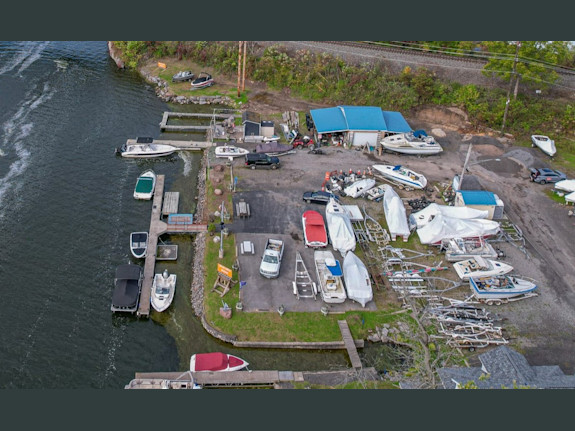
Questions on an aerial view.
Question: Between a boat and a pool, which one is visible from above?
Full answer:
Looking from above, you can make out a boat.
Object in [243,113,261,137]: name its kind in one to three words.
shed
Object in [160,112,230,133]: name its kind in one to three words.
pier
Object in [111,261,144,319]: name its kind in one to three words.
boat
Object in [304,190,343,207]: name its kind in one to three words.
car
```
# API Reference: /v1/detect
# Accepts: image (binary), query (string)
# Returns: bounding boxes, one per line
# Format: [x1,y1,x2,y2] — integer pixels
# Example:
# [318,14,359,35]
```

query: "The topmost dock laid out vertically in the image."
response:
[138,174,164,319]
